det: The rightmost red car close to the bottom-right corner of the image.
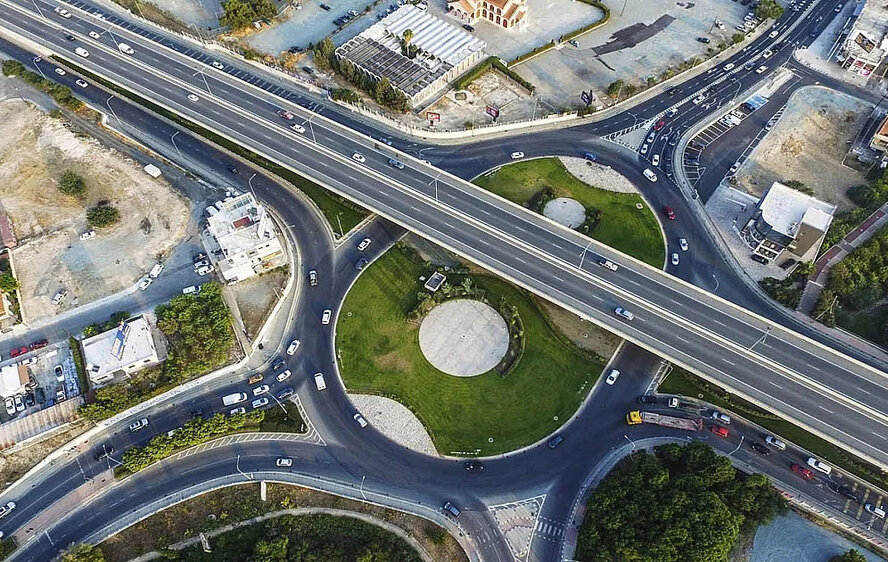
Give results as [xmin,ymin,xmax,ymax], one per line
[791,464,813,479]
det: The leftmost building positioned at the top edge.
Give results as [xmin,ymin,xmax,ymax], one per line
[336,5,486,111]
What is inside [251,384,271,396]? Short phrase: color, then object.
white vehicle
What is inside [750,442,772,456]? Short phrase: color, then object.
black vehicle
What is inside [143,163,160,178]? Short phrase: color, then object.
white vehicle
